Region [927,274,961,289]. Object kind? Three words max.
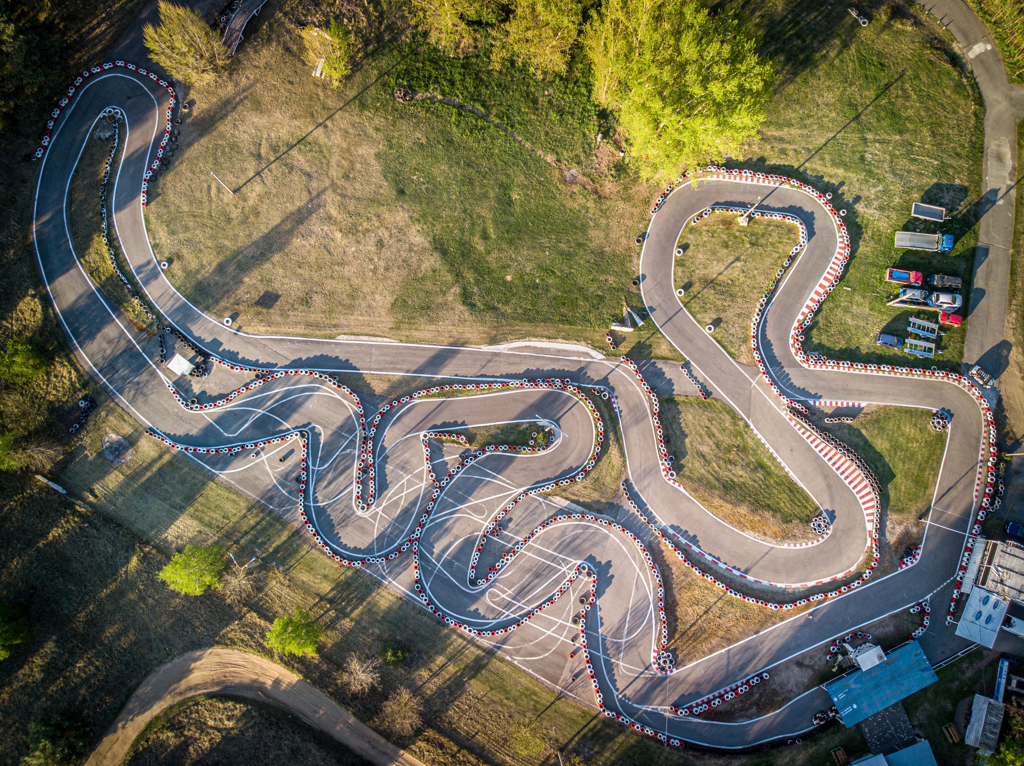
car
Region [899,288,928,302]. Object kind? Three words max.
car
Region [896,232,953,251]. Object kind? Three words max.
vehicle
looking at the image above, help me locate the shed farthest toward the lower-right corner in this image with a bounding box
[960,694,1005,750]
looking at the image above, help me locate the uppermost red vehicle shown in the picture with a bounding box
[888,269,922,285]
